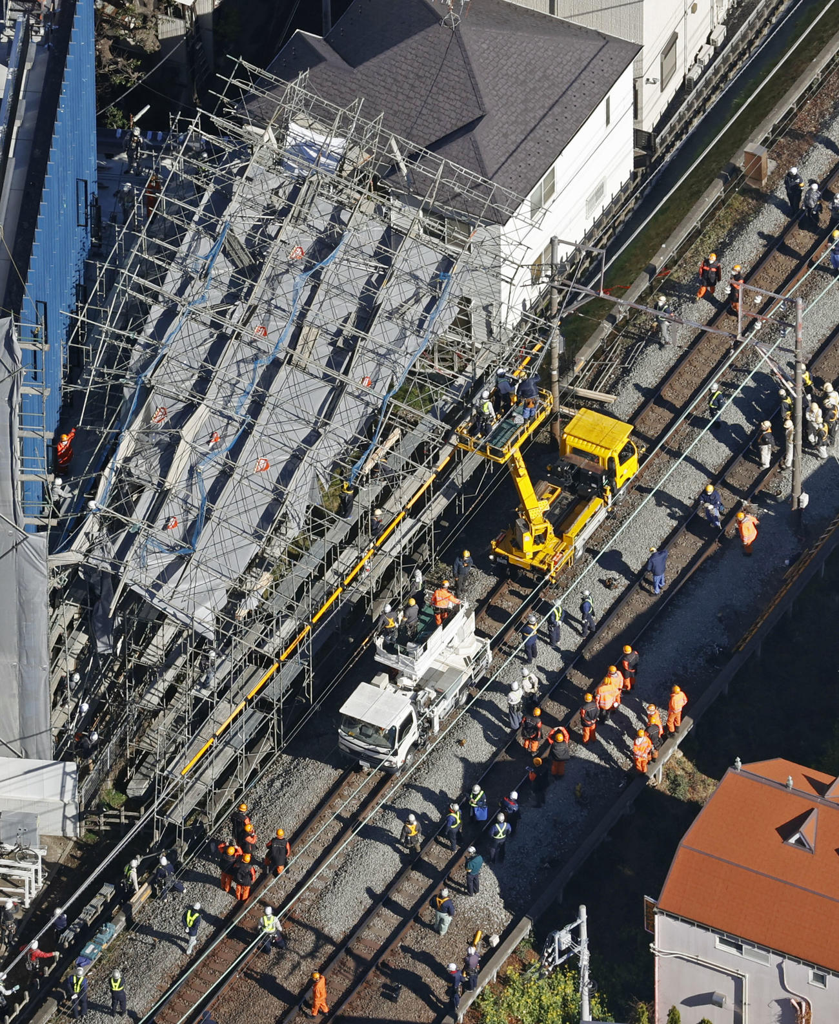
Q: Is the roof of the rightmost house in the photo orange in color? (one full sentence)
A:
Yes, the roof of the rightmost house is orange.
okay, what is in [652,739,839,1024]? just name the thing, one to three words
house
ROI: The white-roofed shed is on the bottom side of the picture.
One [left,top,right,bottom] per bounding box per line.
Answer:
[0,748,72,837]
